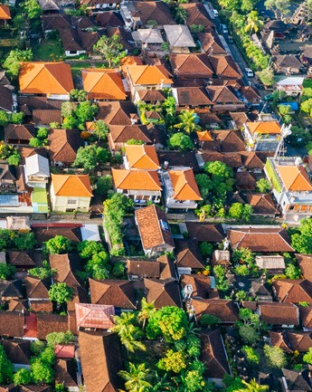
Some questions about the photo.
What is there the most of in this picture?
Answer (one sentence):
The bulk of the photo consists of buildings.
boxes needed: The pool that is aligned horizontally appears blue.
[272,99,310,111]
